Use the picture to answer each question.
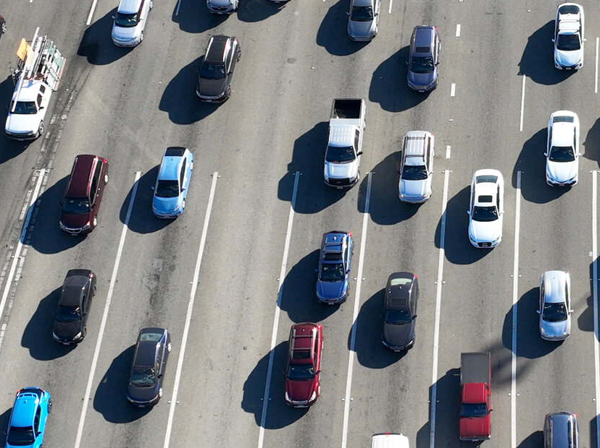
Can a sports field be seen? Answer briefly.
No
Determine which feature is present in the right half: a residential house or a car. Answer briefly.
car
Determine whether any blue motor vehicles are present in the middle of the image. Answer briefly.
Yes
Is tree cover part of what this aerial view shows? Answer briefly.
No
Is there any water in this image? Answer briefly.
No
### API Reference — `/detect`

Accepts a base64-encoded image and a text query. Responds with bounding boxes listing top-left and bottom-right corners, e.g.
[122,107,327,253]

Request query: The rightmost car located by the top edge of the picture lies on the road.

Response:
[550,8,586,70]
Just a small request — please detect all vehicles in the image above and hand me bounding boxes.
[312,225,355,304]
[109,0,152,46]
[543,115,581,188]
[550,8,586,70]
[49,267,100,346]
[378,270,419,352]
[454,350,495,441]
[281,322,326,407]
[543,411,580,448]
[344,0,380,42]
[320,100,366,188]
[3,48,68,138]
[195,35,238,103]
[123,324,173,407]
[395,127,435,203]
[371,427,411,448]
[404,25,440,93]
[149,149,195,218]
[207,0,239,15]
[535,267,575,342]
[466,175,505,249]
[57,154,110,235]
[1,389,55,448]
